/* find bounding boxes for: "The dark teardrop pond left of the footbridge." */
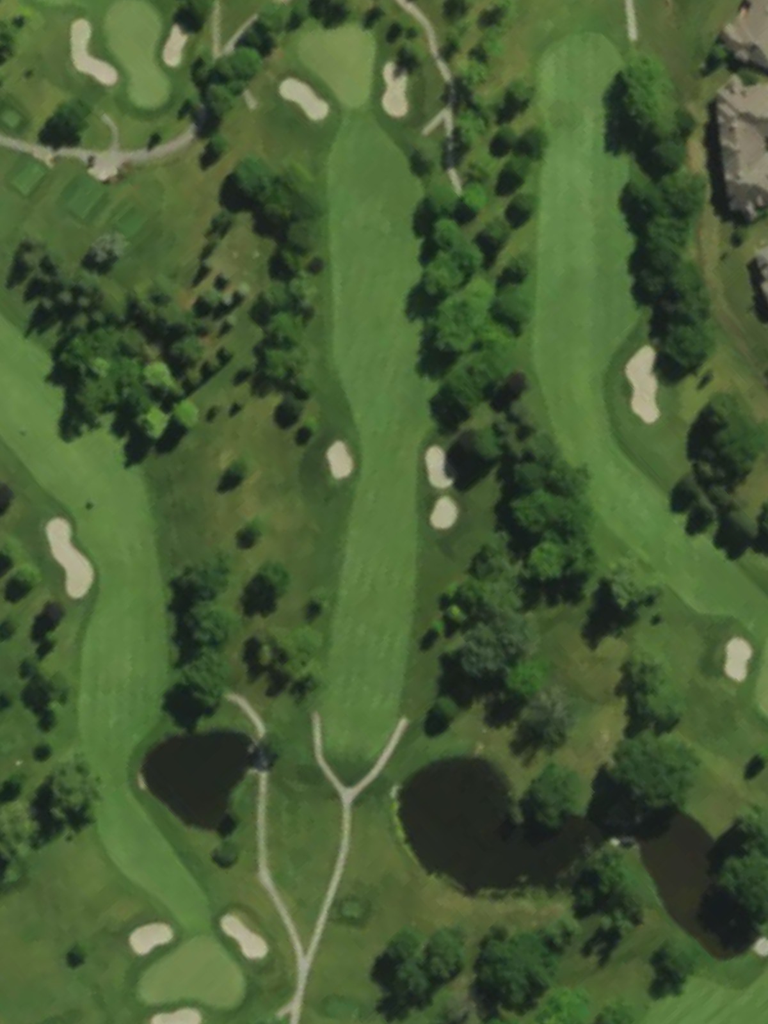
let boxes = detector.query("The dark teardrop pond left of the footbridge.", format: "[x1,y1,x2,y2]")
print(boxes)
[142,729,279,831]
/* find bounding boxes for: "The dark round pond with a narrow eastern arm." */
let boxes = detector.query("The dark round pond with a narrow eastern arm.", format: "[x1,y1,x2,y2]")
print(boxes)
[399,755,761,959]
